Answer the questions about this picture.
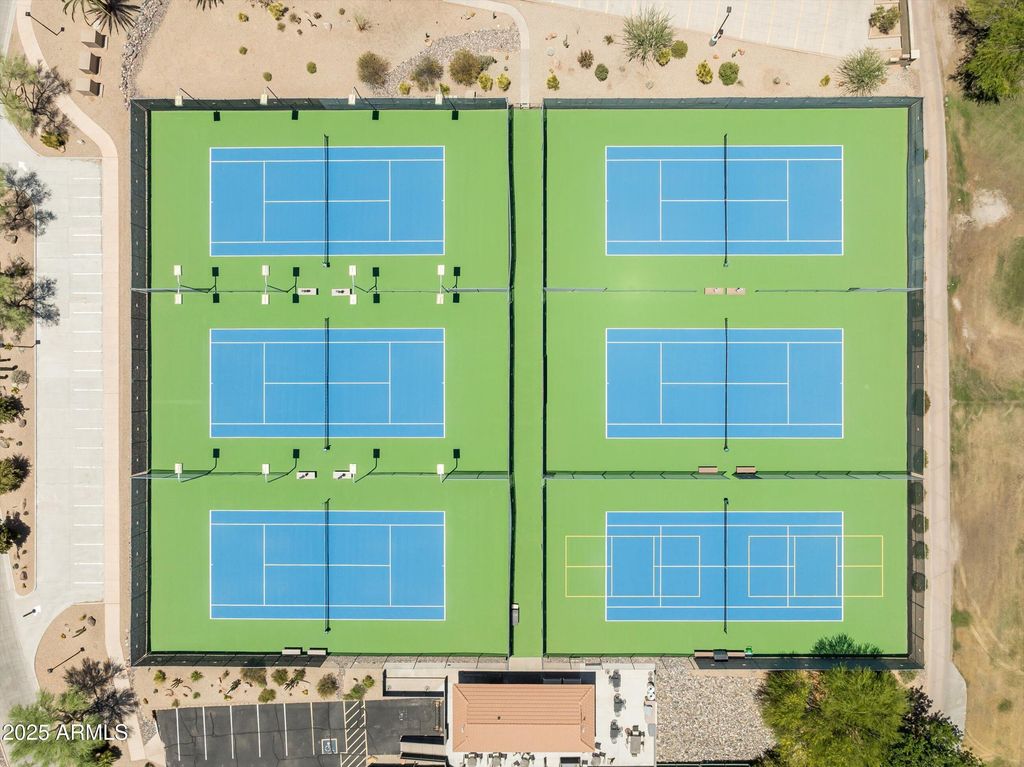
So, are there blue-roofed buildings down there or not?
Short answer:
No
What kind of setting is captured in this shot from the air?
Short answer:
sports ground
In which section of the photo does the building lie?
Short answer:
bottom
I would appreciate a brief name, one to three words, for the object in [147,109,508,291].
tennis court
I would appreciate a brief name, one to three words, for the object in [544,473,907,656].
tennis court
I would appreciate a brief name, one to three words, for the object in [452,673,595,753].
building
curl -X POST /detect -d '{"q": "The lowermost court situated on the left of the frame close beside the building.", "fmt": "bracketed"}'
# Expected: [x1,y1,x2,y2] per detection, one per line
[147,473,508,656]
